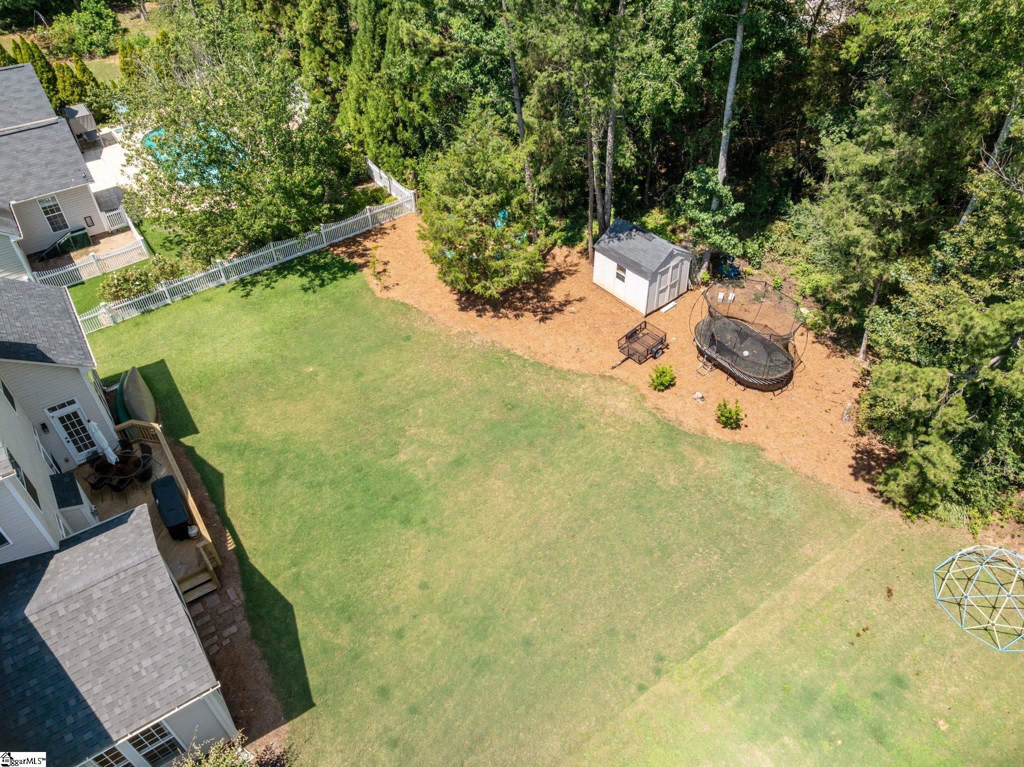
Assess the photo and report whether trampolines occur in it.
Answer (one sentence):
Yes, the image includes a trampoline.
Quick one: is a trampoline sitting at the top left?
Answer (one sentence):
No, the scene shows no trampoline at the top left.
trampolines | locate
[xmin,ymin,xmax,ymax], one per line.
[683,280,812,400]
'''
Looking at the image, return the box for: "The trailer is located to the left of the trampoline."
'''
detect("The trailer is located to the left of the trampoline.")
[609,321,674,368]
